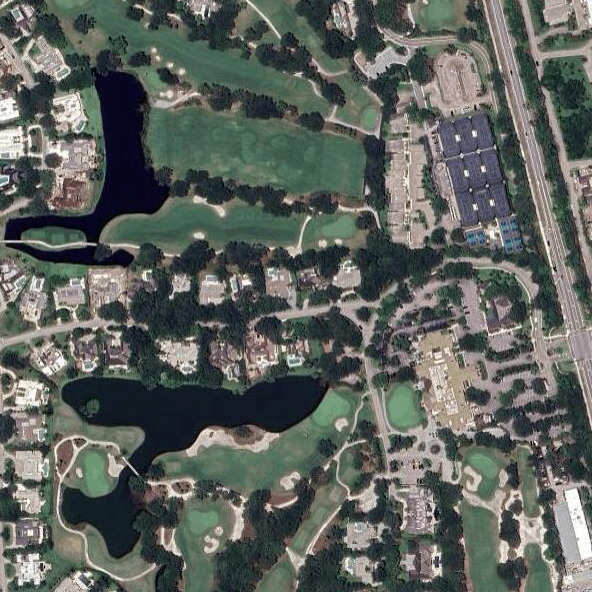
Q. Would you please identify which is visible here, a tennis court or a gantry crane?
tennis court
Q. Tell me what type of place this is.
residential area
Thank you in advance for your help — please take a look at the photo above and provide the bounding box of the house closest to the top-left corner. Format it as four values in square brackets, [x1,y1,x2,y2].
[8,2,41,27]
